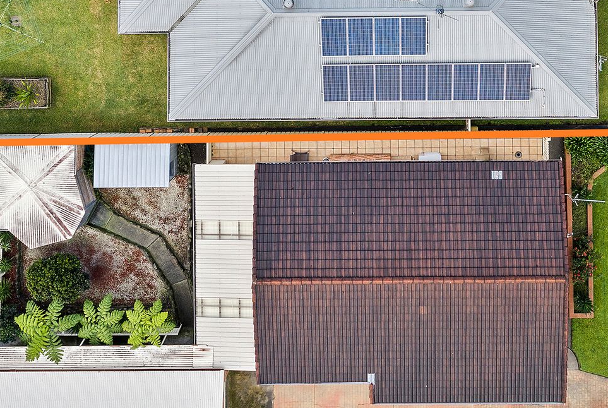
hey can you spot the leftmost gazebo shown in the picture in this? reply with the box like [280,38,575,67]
[0,143,96,247]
